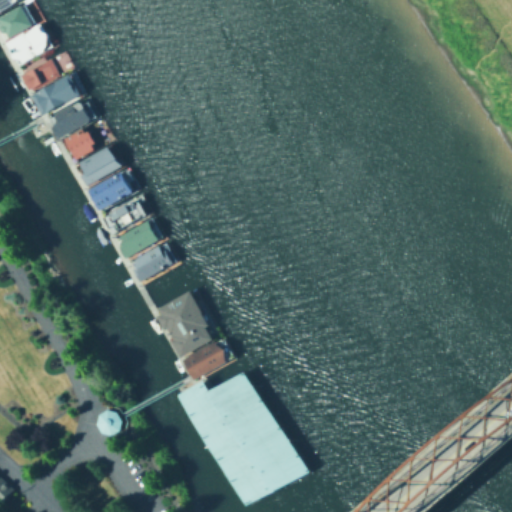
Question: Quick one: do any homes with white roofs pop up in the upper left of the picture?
Yes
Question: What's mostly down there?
water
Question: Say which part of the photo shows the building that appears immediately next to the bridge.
bottom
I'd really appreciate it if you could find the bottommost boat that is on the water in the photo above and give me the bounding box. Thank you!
[98,228,110,246]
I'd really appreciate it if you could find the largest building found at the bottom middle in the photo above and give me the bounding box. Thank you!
[182,372,311,508]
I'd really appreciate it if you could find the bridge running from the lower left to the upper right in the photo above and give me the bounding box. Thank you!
[350,372,512,512]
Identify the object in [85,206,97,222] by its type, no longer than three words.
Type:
boat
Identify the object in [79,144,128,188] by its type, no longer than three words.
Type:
house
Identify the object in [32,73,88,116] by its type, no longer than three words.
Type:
house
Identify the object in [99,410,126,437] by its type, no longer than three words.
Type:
building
